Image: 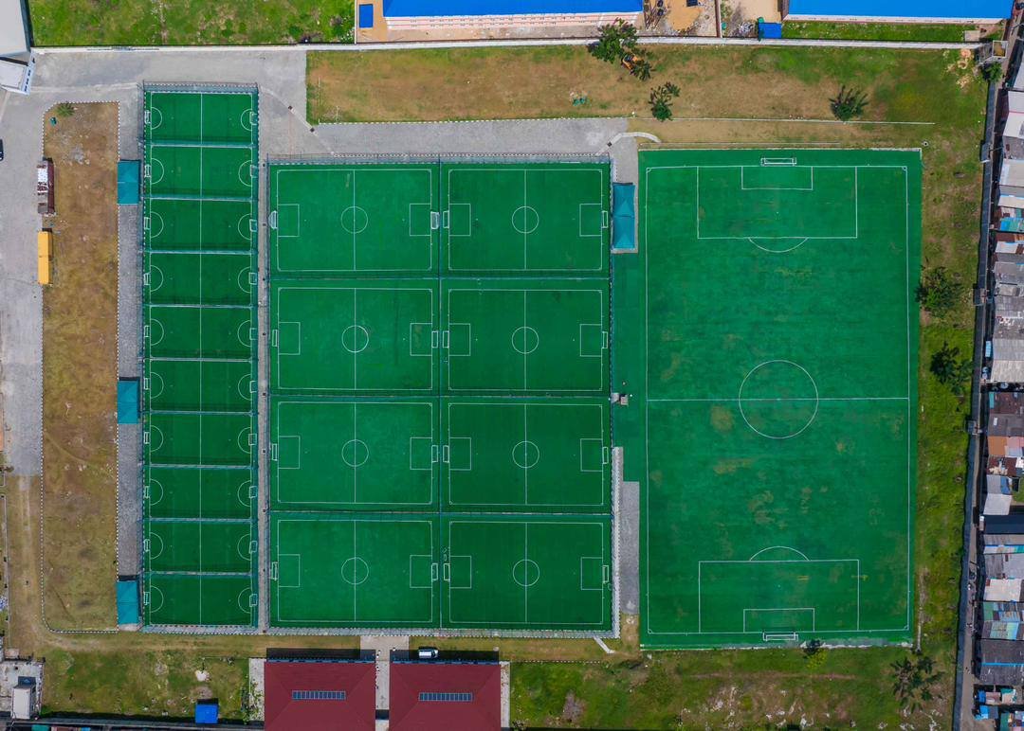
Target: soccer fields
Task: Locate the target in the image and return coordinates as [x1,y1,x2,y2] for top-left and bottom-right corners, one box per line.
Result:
[145,93,258,145]
[145,358,258,412]
[270,279,439,396]
[440,397,611,513]
[612,147,922,651]
[145,305,258,359]
[440,278,611,396]
[145,144,258,199]
[440,513,611,628]
[145,465,258,519]
[270,164,439,278]
[270,397,439,513]
[145,412,258,466]
[145,572,258,626]
[145,518,256,572]
[270,514,439,628]
[440,164,611,276]
[145,198,258,252]
[145,251,258,305]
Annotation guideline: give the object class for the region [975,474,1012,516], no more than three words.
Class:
house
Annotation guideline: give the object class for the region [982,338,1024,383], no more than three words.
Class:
house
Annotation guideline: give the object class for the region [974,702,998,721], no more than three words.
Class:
shed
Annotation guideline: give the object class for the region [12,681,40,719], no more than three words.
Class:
building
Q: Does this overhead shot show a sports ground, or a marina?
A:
sports ground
